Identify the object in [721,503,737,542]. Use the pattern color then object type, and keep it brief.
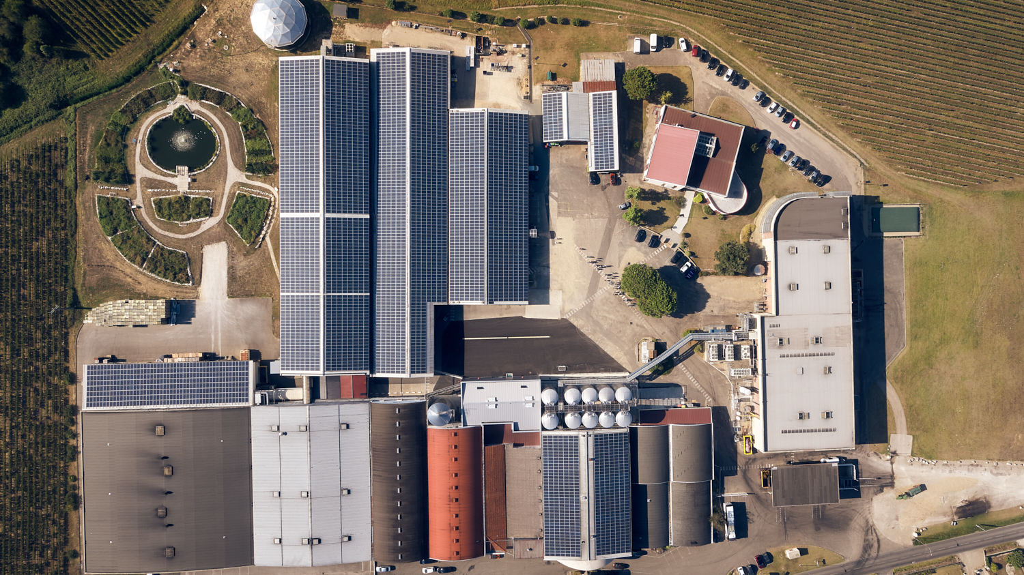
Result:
white vehicle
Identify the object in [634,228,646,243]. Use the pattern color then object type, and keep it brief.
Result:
black vehicle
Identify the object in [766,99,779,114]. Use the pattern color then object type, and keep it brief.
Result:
white vehicle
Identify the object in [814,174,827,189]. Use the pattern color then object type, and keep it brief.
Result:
black vehicle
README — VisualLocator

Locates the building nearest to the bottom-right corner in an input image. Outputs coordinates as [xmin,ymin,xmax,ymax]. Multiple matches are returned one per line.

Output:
[838,461,858,491]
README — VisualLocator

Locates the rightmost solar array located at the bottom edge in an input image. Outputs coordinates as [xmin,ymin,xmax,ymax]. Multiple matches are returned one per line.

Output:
[595,433,630,555]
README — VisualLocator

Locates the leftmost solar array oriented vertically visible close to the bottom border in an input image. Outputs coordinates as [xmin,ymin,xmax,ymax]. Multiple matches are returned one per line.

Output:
[543,435,580,556]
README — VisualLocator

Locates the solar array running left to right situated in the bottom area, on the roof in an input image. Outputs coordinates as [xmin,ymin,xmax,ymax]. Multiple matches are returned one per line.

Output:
[86,362,249,406]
